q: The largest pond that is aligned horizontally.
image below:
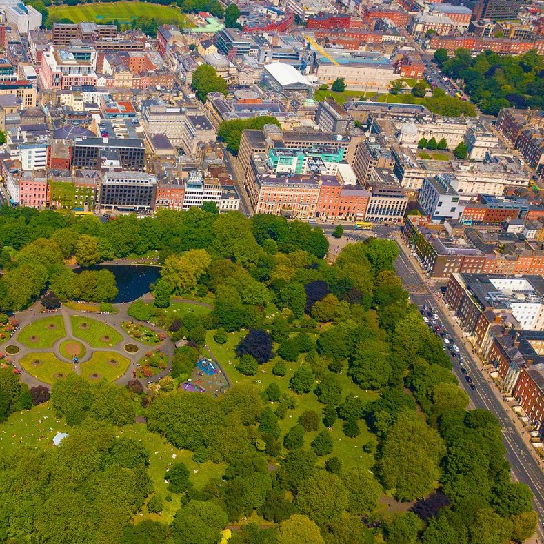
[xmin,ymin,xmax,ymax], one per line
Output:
[69,265,167,304]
